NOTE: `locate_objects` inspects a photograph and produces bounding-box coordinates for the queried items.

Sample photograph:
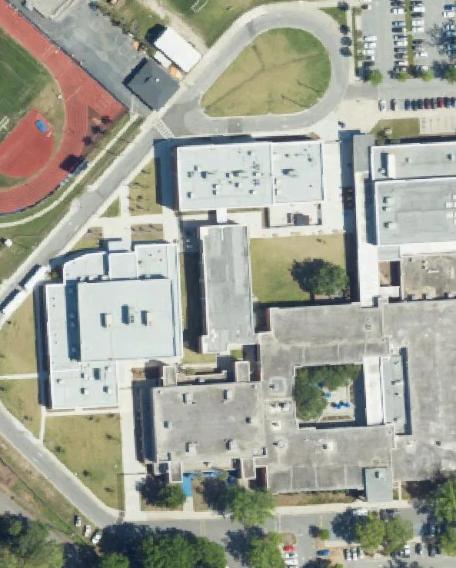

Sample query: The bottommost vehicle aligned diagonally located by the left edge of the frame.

[0,289,26,316]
